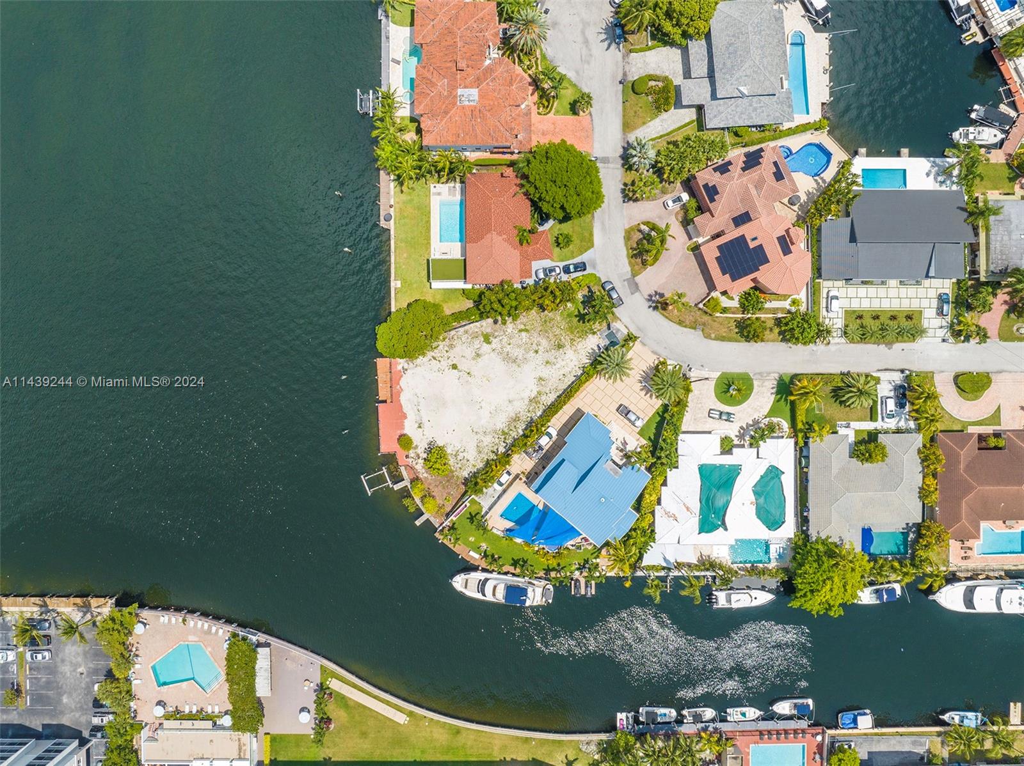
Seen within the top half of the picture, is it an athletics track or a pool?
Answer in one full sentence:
Visible within the top half of the picture is a pool.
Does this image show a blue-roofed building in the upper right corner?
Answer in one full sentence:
No, there is no blue-roofed building in the upper right corner.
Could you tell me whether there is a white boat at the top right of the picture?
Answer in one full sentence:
Yes, the scene does show a white boat at the top right of the picture.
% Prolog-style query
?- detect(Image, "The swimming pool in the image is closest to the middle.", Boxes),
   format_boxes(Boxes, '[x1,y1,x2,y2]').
[499,491,547,527]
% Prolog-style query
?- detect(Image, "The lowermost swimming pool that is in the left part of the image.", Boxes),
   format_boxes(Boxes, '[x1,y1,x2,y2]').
[149,641,226,697]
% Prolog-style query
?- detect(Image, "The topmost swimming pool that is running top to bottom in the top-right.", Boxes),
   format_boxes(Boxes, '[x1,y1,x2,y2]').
[787,28,810,116]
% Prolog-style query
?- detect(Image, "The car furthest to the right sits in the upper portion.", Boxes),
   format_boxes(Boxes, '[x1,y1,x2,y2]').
[936,291,951,317]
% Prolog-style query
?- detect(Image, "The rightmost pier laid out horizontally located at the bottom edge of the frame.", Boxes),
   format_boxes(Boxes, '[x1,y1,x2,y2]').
[635,718,808,734]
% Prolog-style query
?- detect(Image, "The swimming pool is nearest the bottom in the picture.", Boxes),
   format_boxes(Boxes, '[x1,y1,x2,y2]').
[748,742,808,766]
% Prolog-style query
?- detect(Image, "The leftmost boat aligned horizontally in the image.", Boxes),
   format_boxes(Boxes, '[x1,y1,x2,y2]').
[447,571,555,608]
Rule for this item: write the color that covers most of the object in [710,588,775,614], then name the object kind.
white boat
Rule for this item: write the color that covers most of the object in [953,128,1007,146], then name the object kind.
white boat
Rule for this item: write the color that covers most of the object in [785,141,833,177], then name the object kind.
blue swimming pool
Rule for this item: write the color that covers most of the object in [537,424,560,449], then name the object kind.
white truck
